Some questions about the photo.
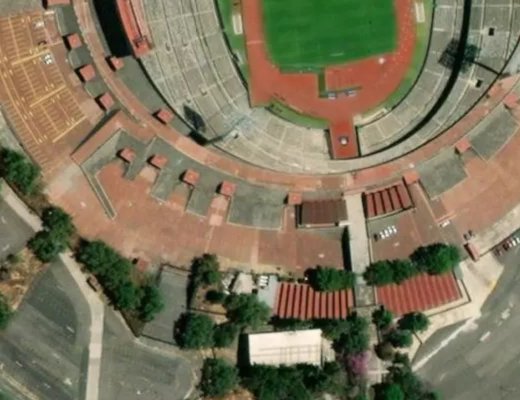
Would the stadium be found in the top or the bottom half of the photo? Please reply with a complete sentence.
The stadium is in the top half of the image.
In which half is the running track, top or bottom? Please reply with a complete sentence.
It is in the top half that the running track appears.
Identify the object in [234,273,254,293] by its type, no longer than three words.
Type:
shed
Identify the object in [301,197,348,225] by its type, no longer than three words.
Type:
building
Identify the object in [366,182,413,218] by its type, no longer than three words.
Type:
building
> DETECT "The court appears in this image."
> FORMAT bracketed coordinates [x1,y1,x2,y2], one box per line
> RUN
[140,264,190,346]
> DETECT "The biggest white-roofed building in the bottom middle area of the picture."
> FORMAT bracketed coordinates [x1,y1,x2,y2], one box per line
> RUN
[247,328,323,368]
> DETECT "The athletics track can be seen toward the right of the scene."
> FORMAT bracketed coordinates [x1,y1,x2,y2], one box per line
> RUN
[242,0,415,122]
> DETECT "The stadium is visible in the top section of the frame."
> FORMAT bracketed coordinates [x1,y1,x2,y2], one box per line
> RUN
[114,0,520,174]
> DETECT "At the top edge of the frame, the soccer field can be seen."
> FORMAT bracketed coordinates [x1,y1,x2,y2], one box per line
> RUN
[262,0,398,97]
